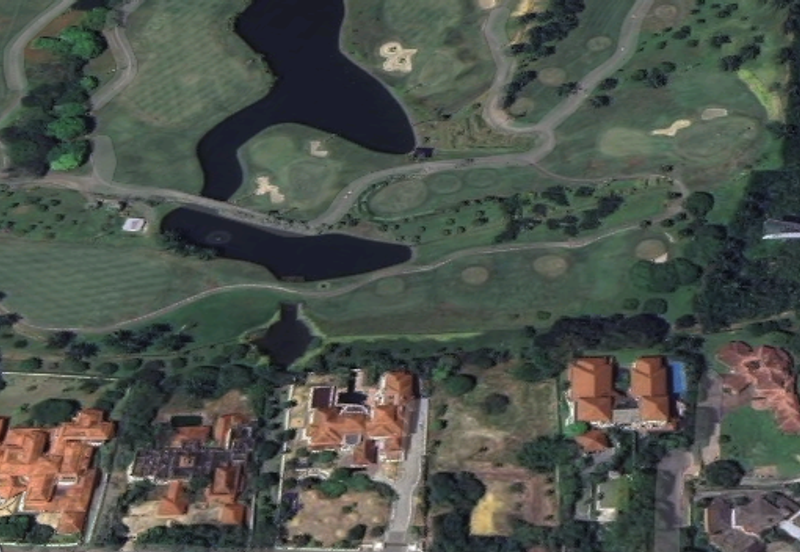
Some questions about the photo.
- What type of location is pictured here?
golf course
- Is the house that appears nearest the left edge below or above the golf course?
below it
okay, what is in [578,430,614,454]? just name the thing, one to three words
building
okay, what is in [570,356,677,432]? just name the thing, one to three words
house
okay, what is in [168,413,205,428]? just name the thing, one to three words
swimming pool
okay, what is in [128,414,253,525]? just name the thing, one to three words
house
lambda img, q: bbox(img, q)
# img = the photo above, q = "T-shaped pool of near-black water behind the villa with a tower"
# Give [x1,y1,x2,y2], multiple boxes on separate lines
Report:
[338,375,370,404]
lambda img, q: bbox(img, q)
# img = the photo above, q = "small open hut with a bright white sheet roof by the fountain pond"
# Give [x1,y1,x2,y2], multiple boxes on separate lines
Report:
[123,219,149,237]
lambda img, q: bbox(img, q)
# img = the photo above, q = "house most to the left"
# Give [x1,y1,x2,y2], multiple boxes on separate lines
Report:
[0,408,114,535]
